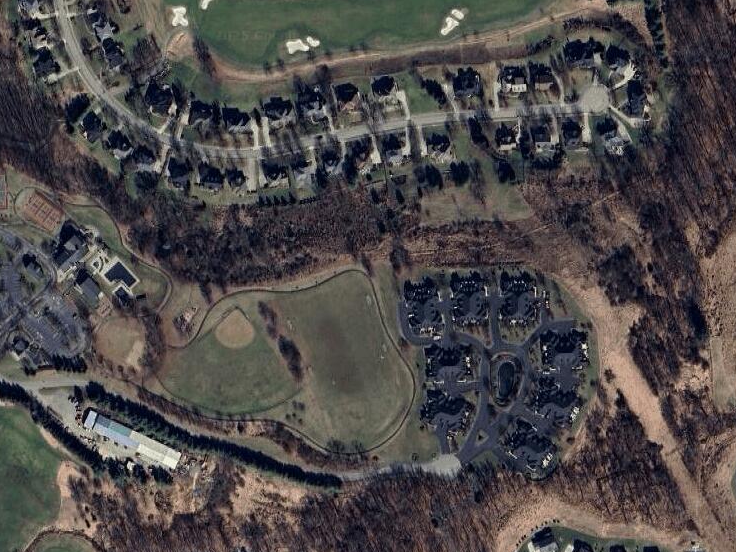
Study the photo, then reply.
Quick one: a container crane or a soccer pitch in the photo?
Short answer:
soccer pitch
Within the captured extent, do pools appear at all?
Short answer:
Yes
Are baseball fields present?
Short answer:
Yes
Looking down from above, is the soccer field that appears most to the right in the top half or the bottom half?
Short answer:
bottom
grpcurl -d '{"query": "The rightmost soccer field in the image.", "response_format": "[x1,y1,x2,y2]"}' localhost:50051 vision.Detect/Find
[287,280,401,440]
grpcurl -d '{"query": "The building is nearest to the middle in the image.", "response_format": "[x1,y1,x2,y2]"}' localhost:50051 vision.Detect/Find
[405,291,449,330]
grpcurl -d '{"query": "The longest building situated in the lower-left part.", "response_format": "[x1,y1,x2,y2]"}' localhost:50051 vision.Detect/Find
[97,412,184,465]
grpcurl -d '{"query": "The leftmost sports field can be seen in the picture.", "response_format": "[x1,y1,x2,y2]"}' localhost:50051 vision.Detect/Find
[92,318,147,367]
